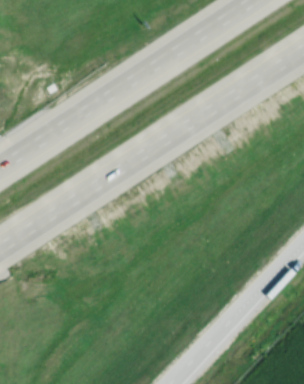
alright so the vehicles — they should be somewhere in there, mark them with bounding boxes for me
[106,171,118,181]
[0,160,9,168]
[266,262,298,300]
